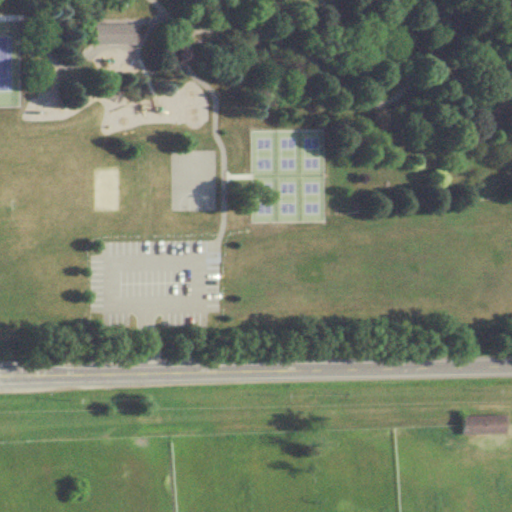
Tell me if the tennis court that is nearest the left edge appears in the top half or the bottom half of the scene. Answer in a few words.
top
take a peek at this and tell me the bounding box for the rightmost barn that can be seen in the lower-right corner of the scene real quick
[466,415,508,435]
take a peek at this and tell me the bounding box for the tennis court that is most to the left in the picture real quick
[0,26,22,108]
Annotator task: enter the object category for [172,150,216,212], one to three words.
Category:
basketball court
